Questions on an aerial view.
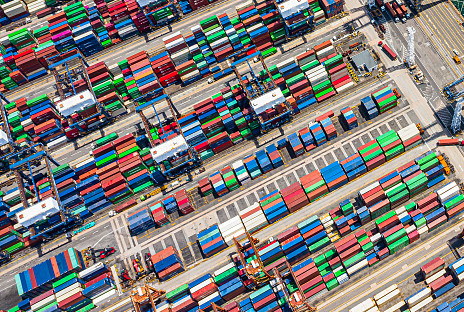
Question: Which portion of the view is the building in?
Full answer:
The building is located in the top right region of the scene.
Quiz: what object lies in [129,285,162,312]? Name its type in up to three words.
container crane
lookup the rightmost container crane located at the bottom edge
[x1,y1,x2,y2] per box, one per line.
[273,262,314,312]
